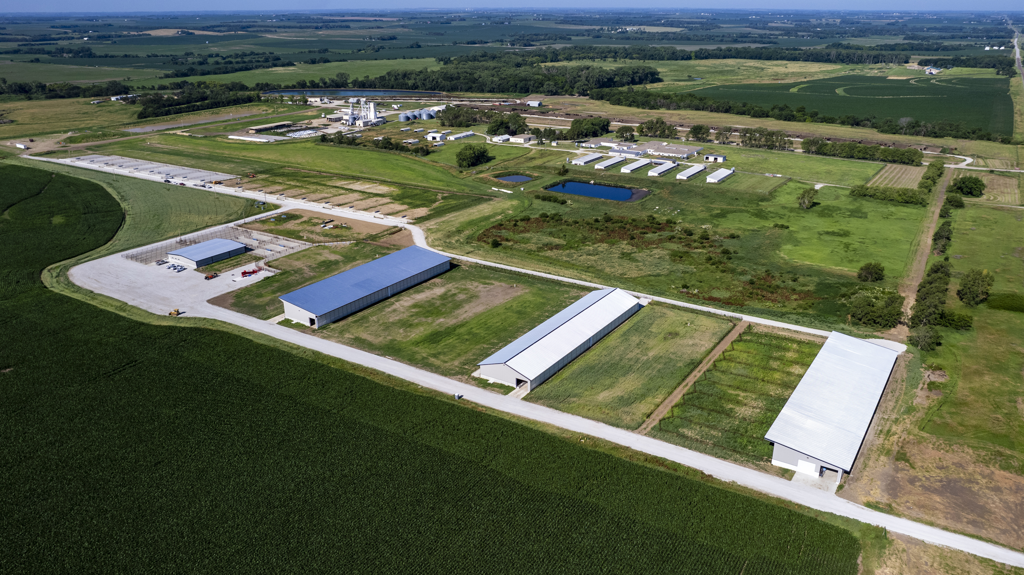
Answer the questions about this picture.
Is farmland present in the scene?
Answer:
Yes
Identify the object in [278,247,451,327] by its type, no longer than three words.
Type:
barn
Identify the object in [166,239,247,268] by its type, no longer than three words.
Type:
barn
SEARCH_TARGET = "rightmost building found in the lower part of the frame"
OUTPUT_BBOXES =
[765,327,901,484]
